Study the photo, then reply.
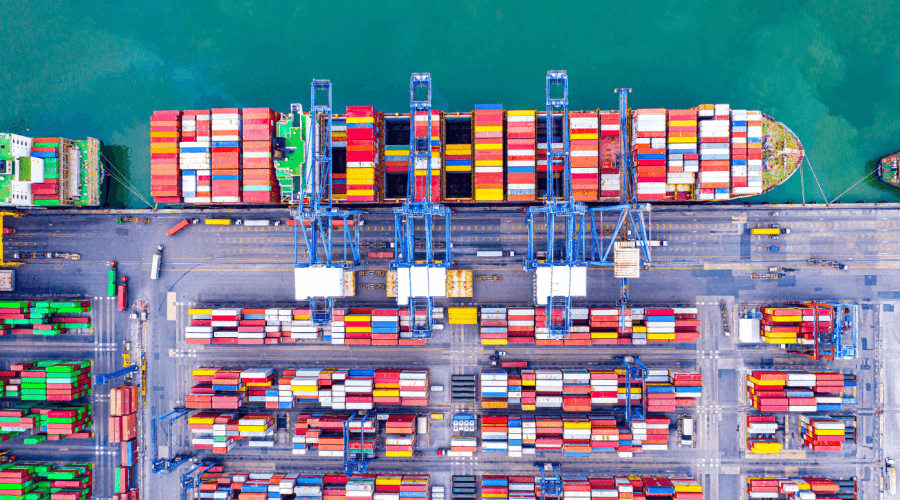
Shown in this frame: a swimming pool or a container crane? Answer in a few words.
container crane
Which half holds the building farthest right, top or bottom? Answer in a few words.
bottom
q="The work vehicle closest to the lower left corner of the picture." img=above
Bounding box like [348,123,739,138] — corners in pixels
[87,367,136,391]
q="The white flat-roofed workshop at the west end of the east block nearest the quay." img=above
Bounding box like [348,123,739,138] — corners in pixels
[740,318,766,344]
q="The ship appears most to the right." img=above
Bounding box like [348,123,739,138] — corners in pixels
[868,154,900,193]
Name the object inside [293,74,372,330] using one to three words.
container crane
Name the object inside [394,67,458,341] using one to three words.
container crane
